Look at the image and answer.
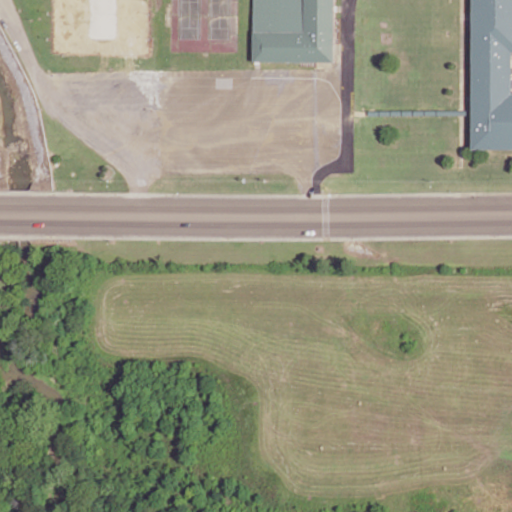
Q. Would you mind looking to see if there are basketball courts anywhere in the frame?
No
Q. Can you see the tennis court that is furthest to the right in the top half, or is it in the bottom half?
top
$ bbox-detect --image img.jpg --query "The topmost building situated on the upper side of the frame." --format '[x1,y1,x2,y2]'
[252,0,334,62]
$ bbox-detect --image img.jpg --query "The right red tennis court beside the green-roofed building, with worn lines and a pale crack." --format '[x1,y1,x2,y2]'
[206,0,238,52]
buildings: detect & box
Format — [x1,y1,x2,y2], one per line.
[252,0,334,62]
[470,0,512,150]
